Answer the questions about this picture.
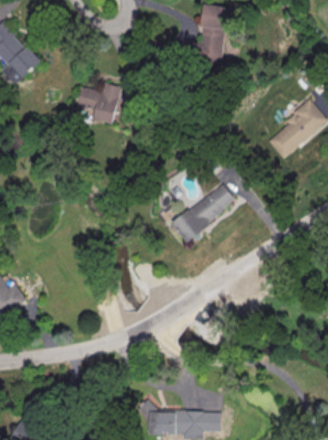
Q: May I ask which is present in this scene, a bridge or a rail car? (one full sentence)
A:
This aerial view contains a bridge.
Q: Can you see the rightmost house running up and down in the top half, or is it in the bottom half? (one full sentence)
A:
The rightmost house running up and down is in the top half of the image.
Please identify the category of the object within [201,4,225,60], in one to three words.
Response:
house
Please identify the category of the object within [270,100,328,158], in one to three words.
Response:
house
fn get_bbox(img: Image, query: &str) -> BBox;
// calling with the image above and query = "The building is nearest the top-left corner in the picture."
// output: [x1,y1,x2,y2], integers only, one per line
[0,22,38,82]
